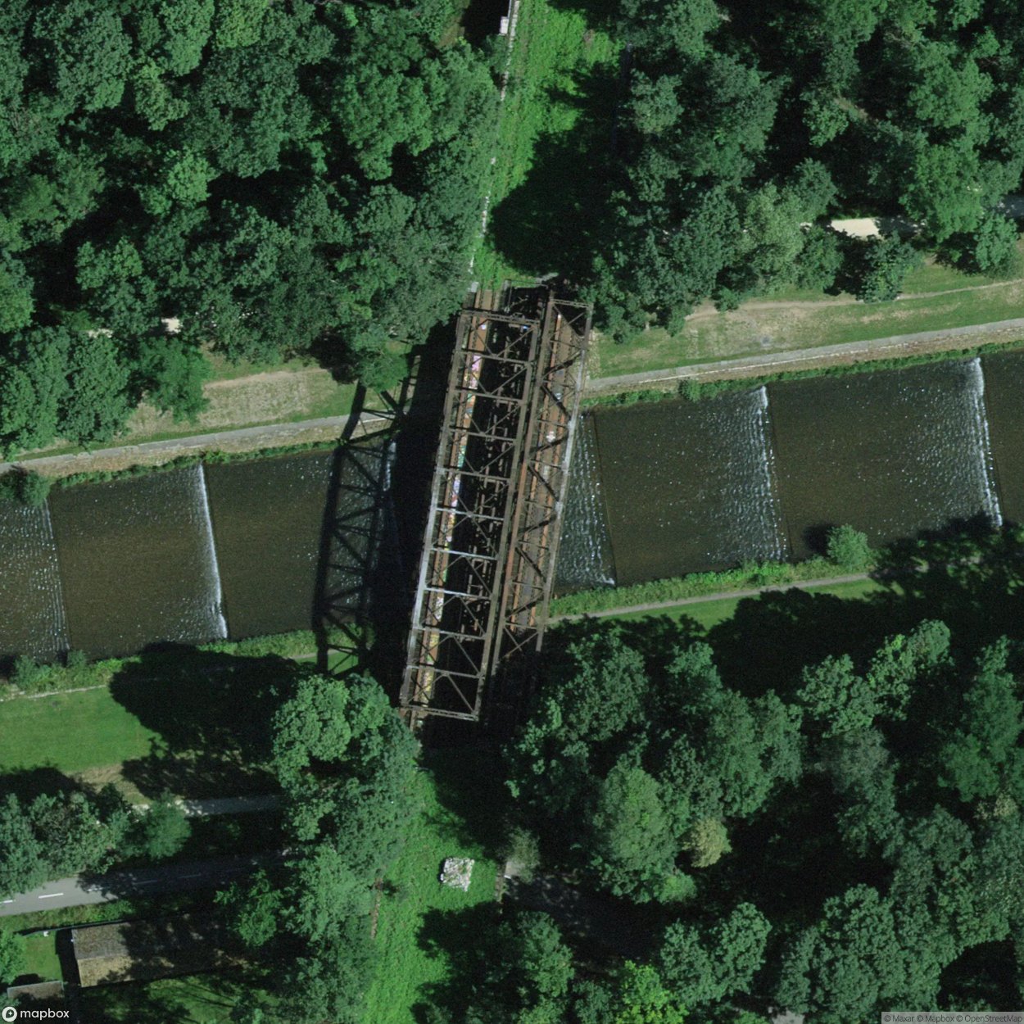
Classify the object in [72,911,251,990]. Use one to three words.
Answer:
shed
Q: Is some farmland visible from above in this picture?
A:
No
